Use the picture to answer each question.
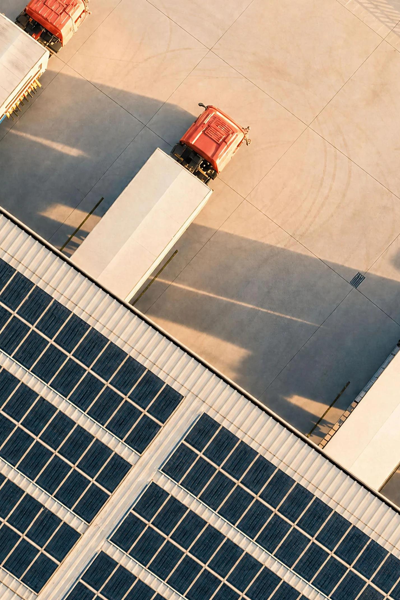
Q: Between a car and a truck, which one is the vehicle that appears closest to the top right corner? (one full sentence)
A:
What you see as the vehicle that appears closest to the top right corner is a truck.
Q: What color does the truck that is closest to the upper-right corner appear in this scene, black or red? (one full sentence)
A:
From above, the truck that is closest to the upper-right corner appears red.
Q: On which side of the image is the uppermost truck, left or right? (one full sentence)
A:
You can find the uppermost truck on the left side of the picture.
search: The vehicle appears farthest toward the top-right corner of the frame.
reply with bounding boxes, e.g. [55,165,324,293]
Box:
[167,99,256,194]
